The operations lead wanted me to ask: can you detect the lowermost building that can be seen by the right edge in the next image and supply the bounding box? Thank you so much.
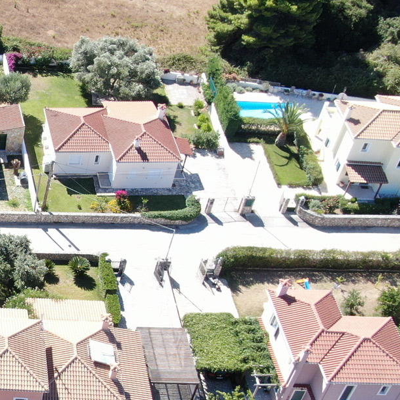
[262,277,400,400]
